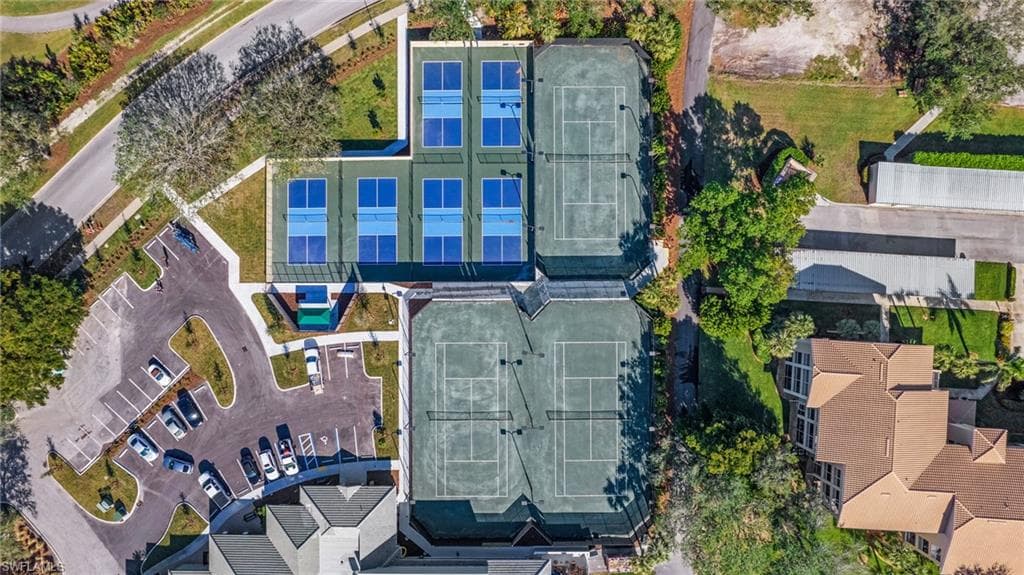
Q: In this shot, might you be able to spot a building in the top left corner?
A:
No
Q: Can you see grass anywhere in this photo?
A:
Yes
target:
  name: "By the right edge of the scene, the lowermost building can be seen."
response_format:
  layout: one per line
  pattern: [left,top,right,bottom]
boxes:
[786,337,1024,575]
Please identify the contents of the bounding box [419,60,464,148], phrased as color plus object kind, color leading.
blue sports court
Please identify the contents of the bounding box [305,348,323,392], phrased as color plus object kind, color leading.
white vehicle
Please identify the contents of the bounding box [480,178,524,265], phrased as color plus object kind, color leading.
blue sports court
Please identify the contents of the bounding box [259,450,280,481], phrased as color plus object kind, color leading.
white car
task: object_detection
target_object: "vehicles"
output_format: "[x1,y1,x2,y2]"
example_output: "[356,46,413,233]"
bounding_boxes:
[240,453,263,484]
[305,348,323,392]
[200,471,233,509]
[128,432,159,460]
[163,455,196,475]
[147,362,173,388]
[177,395,204,428]
[259,450,280,481]
[159,409,187,439]
[278,439,300,476]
